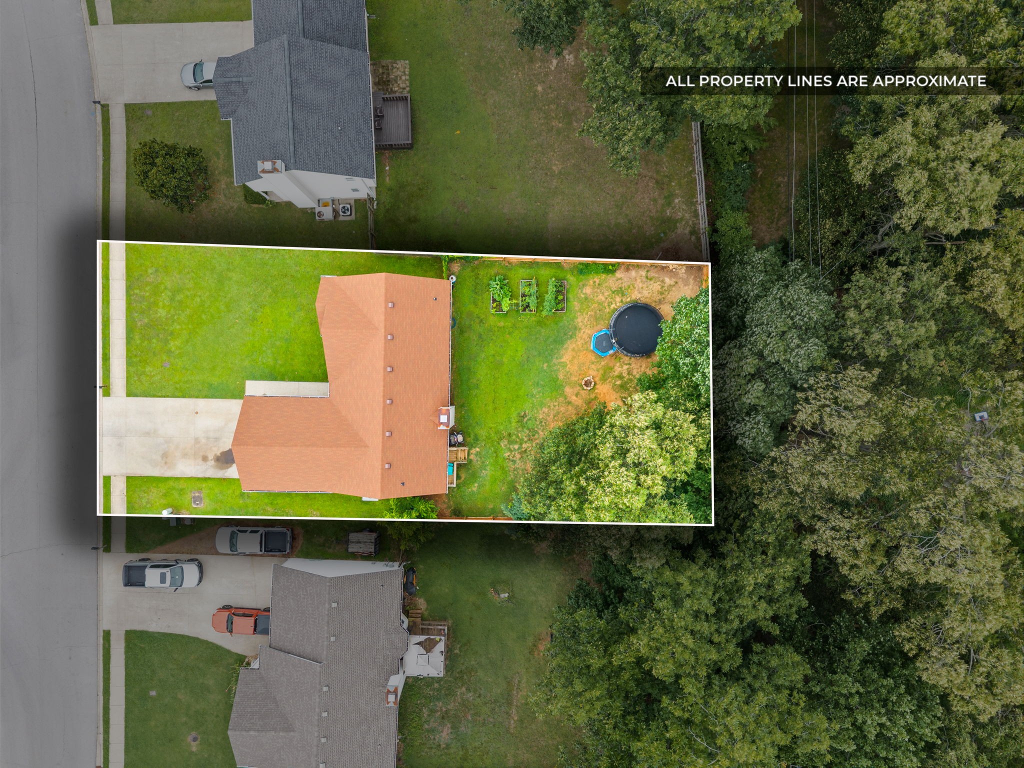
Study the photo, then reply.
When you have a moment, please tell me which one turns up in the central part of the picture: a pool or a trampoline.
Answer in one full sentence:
The feature located in the central part of the picture is a trampoline.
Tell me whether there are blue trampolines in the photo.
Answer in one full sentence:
Yes, I can see a blue trampoline in this picture.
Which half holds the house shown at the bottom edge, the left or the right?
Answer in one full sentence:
The house shown at the bottom edge appears in the left half of the scene.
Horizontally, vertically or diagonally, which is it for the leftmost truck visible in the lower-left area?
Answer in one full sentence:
Seen from above, the leftmost truck visible in the lower-left area lies horizontally.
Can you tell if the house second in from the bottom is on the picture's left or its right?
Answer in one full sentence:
It is on the left.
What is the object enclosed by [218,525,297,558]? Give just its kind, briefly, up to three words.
truck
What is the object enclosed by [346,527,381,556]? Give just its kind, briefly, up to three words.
trailer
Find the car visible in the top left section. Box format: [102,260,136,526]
[181,59,216,92]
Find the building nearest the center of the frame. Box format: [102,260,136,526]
[230,273,457,500]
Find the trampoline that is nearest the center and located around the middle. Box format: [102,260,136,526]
[590,328,617,358]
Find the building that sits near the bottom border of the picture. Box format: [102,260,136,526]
[228,558,412,768]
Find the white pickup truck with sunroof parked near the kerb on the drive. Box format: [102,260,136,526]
[124,559,207,595]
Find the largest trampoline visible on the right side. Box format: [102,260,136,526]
[607,300,664,361]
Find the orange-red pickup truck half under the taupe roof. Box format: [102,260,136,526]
[212,603,269,639]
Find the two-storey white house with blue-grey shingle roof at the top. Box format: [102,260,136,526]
[212,0,384,207]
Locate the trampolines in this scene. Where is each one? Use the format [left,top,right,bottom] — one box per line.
[590,328,617,358]
[607,300,664,361]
